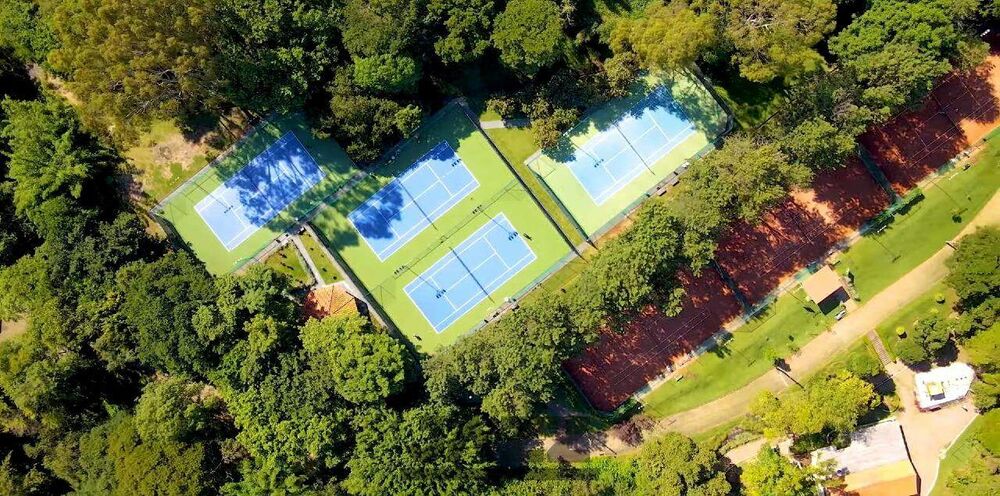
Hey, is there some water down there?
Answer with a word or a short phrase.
No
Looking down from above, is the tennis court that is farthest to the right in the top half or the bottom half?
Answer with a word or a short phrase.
top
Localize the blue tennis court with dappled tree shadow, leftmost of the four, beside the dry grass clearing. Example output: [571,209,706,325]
[163,105,357,273]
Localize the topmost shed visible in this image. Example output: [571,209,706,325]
[796,266,842,304]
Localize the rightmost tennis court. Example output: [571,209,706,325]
[852,19,1000,197]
